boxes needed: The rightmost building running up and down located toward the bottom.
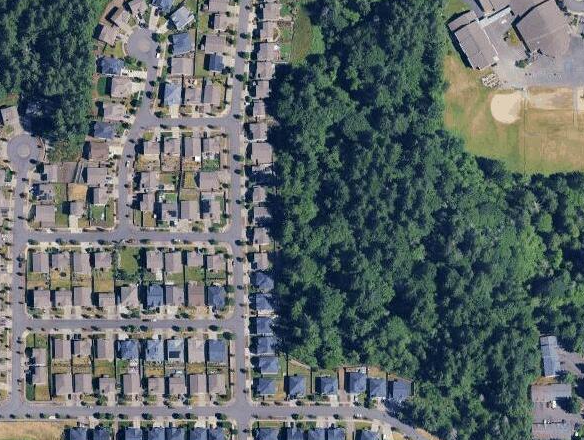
[540,337,561,378]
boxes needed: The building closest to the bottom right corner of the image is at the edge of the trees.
[532,423,571,440]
